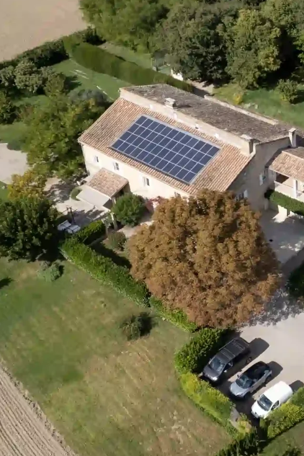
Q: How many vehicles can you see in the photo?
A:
three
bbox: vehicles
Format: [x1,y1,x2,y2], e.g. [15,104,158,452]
[202,341,253,385]
[248,381,294,421]
[230,365,275,402]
